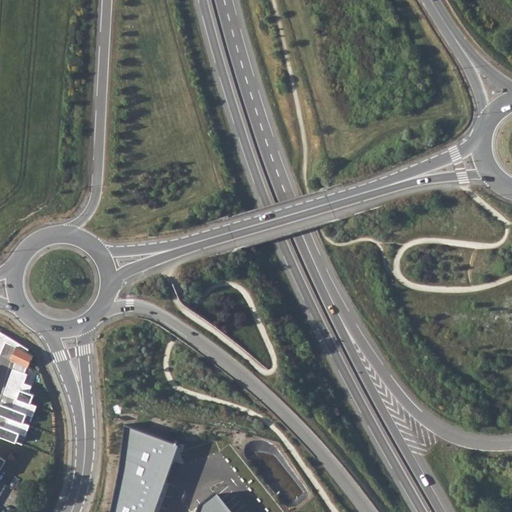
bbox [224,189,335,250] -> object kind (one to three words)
overpass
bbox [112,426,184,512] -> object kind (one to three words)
building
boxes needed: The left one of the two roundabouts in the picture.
[0,224,119,339]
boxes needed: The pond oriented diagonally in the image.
[242,438,307,505]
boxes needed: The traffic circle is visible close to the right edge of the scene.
[472,90,512,202]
